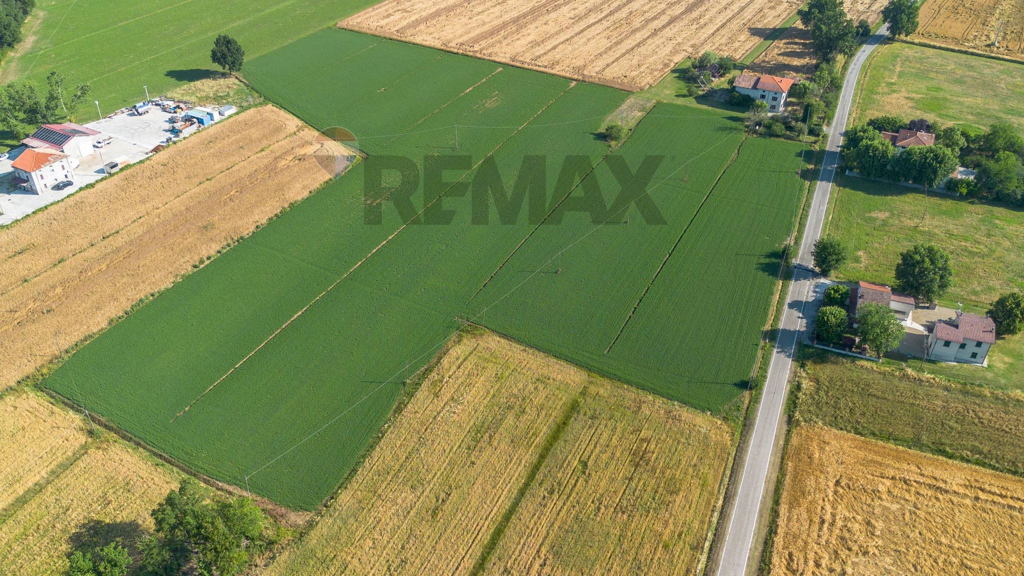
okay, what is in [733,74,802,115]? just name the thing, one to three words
house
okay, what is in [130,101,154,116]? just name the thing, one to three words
vehicle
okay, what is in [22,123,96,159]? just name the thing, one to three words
shed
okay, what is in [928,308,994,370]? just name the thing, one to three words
house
